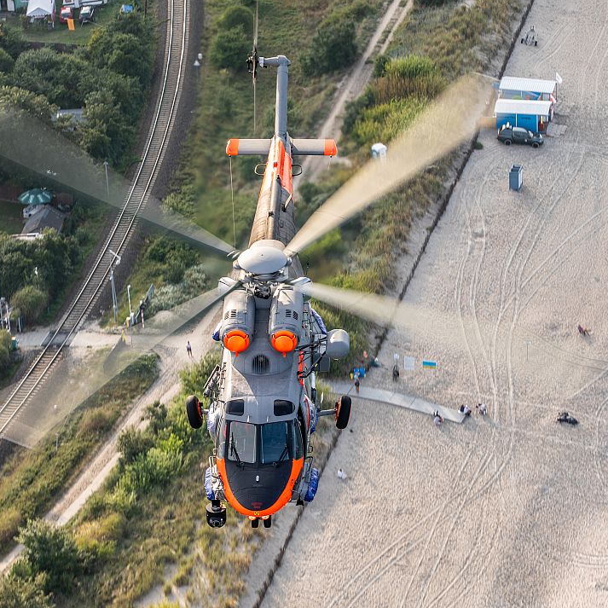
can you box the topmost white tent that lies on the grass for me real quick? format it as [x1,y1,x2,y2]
[26,0,56,30]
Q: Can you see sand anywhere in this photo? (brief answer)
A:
Yes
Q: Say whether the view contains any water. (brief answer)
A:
No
